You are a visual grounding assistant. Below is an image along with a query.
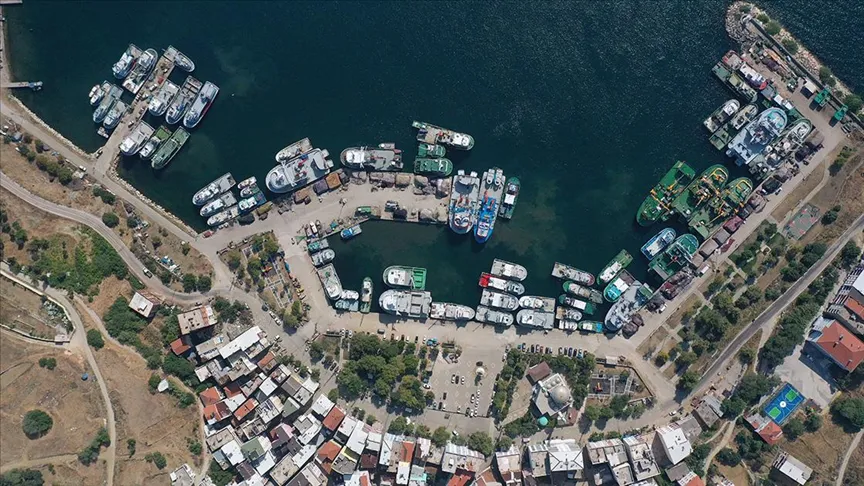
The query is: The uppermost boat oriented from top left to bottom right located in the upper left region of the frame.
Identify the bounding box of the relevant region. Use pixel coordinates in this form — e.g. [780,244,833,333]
[165,50,194,73]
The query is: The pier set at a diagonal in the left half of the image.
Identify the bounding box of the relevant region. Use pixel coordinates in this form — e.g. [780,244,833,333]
[105,58,174,158]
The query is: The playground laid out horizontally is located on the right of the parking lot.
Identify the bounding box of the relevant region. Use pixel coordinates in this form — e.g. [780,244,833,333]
[584,369,637,404]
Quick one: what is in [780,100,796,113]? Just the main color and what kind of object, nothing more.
white boat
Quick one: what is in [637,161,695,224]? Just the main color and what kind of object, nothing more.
green boat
